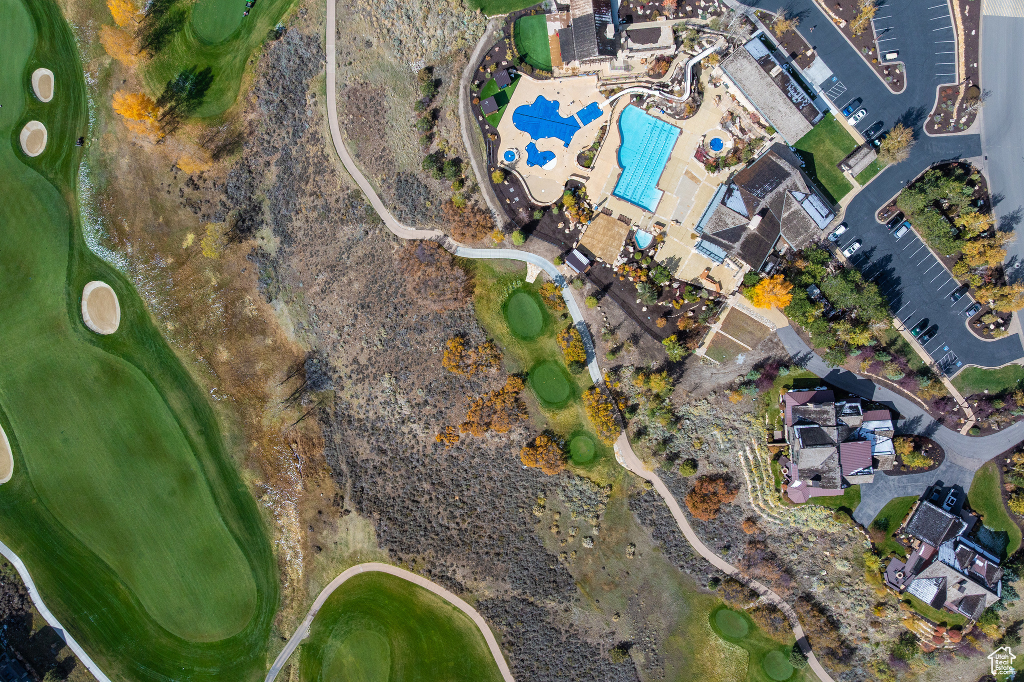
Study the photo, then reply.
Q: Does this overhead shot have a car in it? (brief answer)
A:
Yes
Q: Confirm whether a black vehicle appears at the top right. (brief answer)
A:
Yes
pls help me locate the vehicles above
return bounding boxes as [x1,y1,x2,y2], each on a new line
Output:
[893,221,911,239]
[847,107,867,124]
[965,302,981,317]
[869,132,884,149]
[842,241,861,258]
[885,215,903,230]
[944,490,959,510]
[917,328,937,345]
[827,224,847,242]
[841,96,864,116]
[927,482,945,504]
[881,51,899,61]
[861,121,884,140]
[948,286,968,303]
[909,321,928,337]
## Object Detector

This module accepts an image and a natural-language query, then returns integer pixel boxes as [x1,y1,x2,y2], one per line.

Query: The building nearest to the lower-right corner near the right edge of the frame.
[899,500,1004,620]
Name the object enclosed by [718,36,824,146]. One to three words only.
building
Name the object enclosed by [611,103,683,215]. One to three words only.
swimming pool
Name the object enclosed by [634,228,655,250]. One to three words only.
swimming pool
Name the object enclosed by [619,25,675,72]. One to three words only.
building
